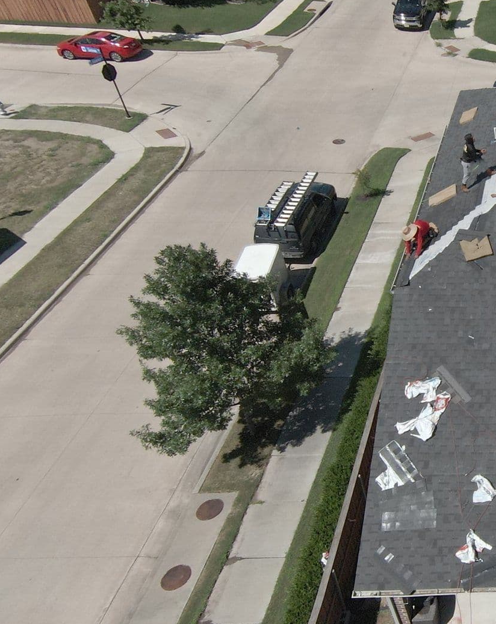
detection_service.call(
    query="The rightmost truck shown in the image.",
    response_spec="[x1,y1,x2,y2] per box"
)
[389,0,434,29]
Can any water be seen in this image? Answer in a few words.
No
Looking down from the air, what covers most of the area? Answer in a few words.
paved ground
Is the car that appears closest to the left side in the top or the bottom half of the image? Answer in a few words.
top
